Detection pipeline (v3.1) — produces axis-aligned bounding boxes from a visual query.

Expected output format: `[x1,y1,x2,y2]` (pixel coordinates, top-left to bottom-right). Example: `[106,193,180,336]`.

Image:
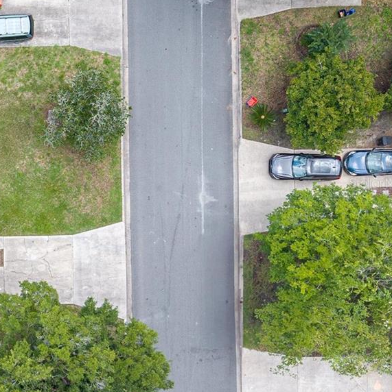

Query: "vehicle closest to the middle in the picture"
[269,149,342,183]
